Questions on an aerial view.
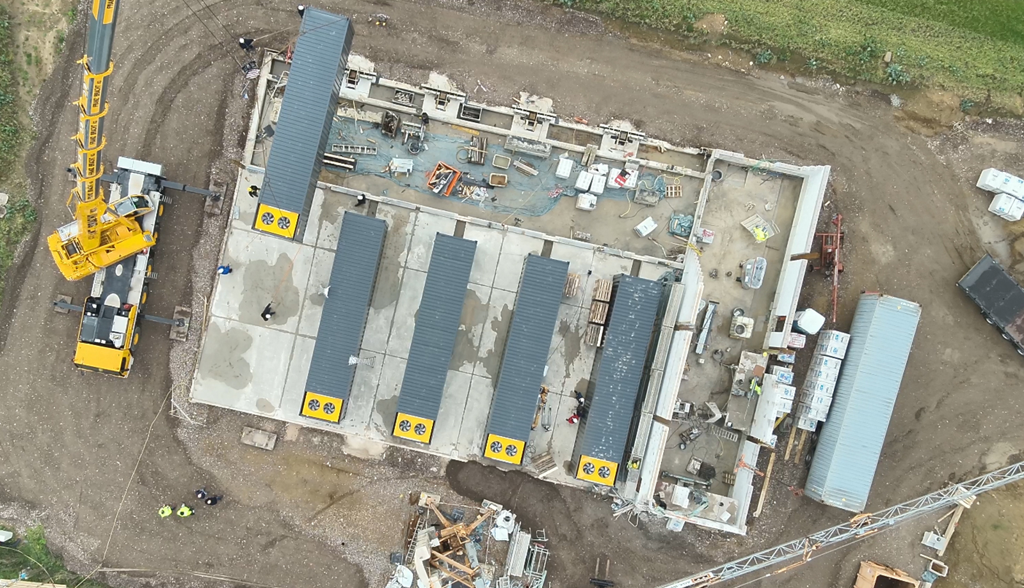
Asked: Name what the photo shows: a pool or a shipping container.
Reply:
shipping container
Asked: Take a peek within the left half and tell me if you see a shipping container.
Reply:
Yes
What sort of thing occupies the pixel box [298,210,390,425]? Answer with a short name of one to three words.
shipping container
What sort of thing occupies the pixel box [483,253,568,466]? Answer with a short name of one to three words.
shipping container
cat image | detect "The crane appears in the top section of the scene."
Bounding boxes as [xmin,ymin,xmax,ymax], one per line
[39,0,223,378]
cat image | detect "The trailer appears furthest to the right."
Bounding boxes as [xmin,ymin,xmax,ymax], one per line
[953,253,1024,362]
